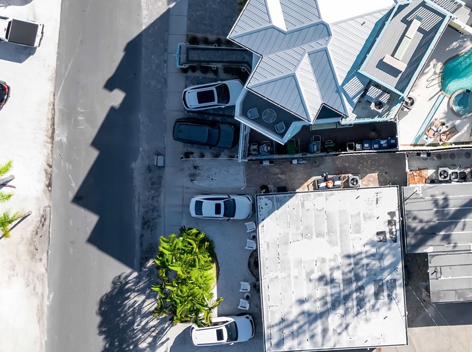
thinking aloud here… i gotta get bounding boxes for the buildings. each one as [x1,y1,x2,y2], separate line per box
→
[404,181,472,303]
[257,185,407,352]
[227,0,472,145]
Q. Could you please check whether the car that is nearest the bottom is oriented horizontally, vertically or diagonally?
horizontally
